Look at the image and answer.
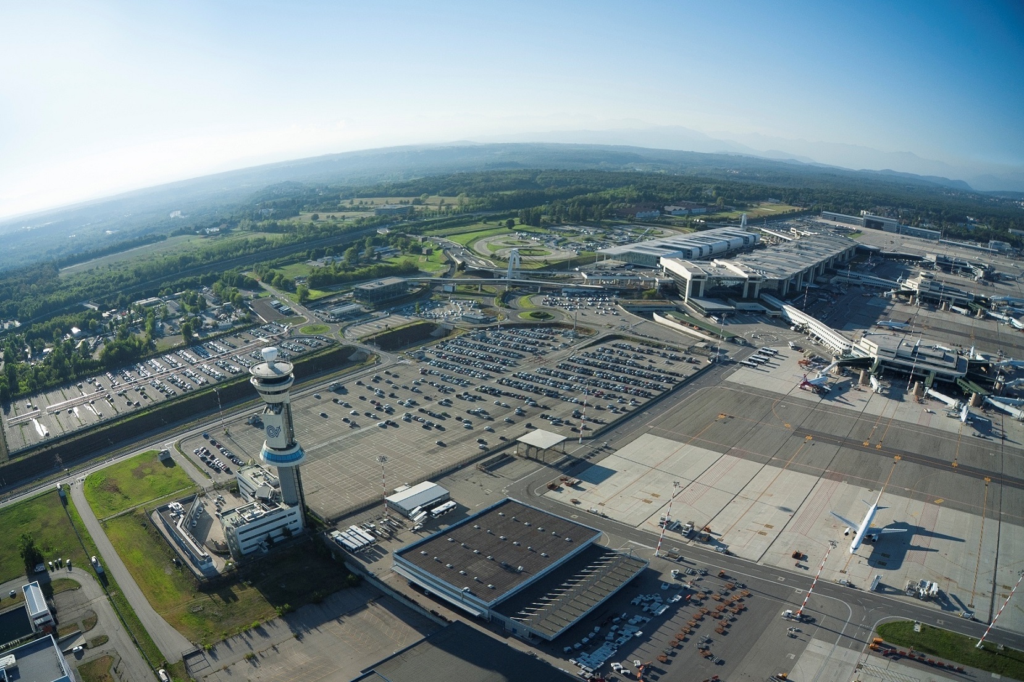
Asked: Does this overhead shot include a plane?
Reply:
Yes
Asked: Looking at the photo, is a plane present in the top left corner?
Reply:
No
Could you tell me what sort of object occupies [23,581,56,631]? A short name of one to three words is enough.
building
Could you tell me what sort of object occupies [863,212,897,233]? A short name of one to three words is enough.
hangar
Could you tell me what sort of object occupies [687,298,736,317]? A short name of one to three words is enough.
building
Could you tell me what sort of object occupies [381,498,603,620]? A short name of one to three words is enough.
warehouse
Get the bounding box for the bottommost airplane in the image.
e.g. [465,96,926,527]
[833,481,905,552]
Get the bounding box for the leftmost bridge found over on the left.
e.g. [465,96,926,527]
[332,336,409,366]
